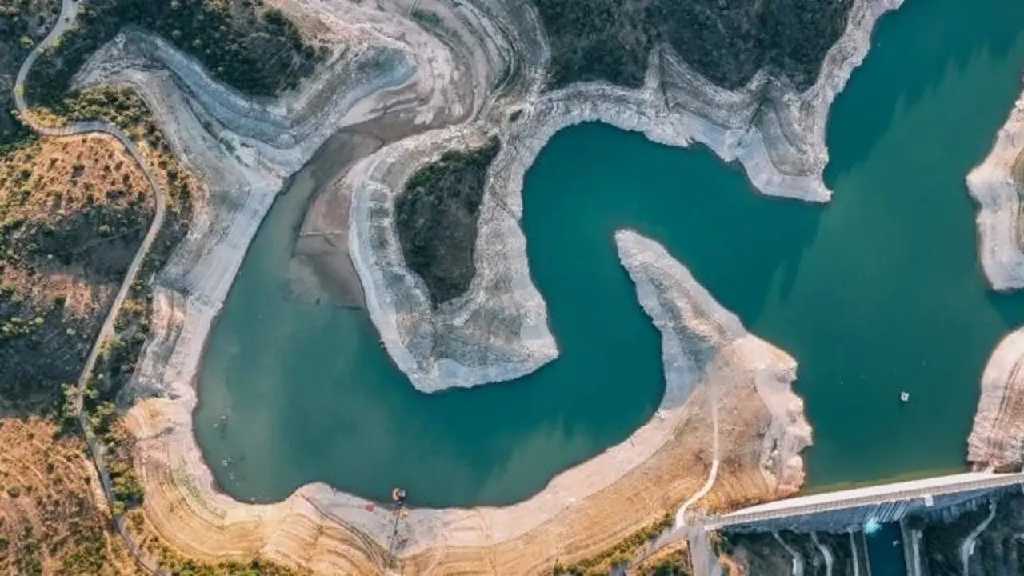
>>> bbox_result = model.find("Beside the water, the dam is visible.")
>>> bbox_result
[697,473,1024,530]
